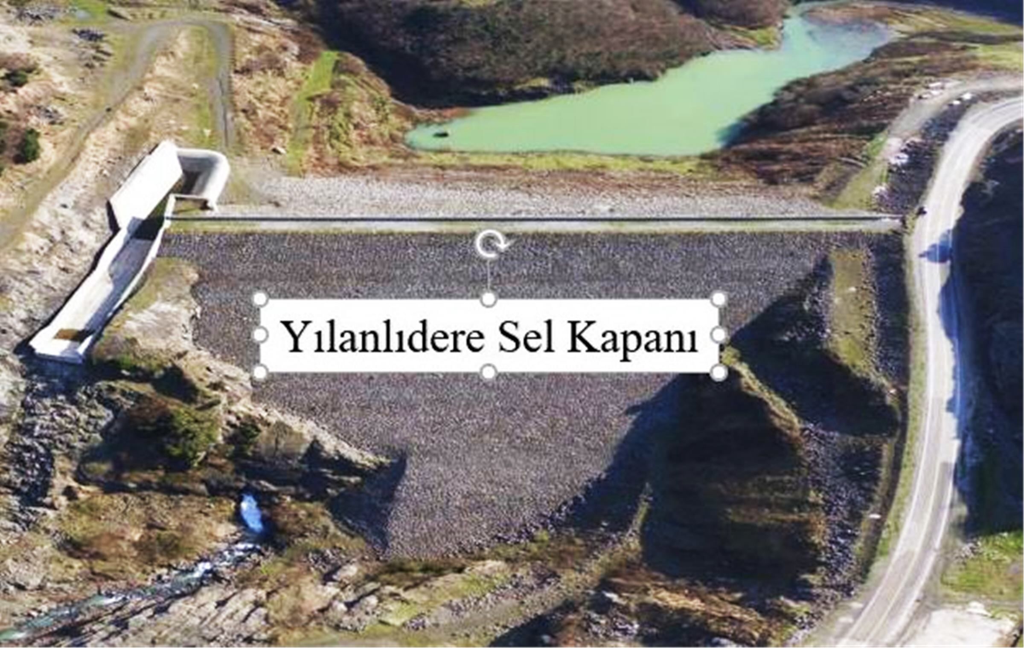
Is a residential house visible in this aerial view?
No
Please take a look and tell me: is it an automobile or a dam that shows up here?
dam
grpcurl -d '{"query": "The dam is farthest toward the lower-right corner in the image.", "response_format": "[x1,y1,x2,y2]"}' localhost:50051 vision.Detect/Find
[171,179,915,560]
